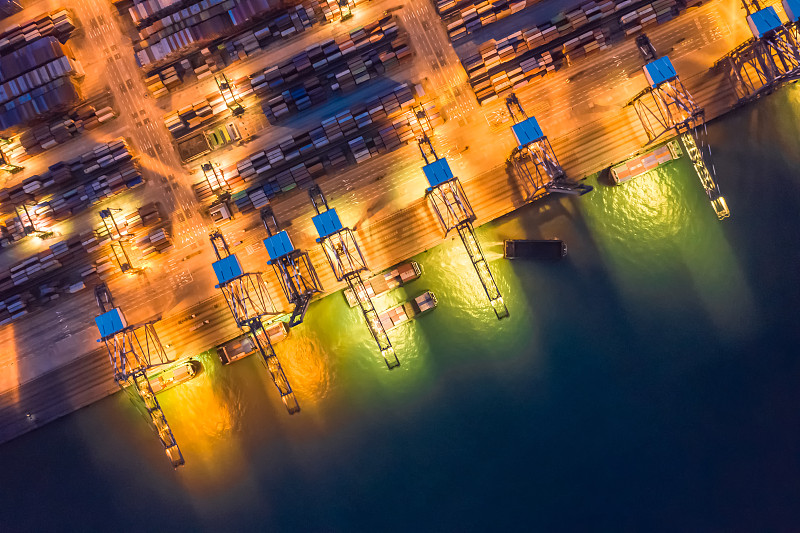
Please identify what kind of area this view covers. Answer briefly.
port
